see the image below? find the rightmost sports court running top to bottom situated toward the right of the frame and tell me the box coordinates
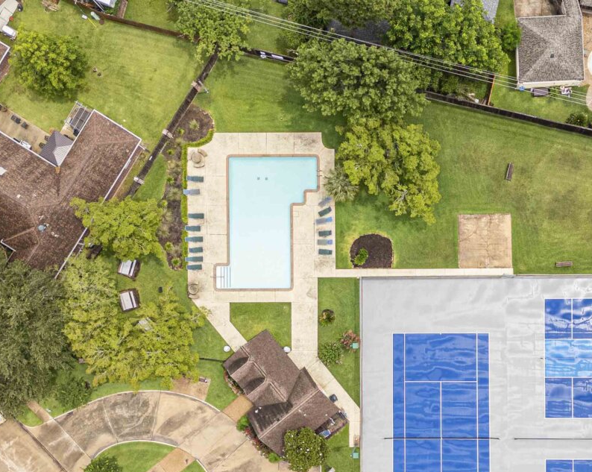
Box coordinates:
[545,300,592,418]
